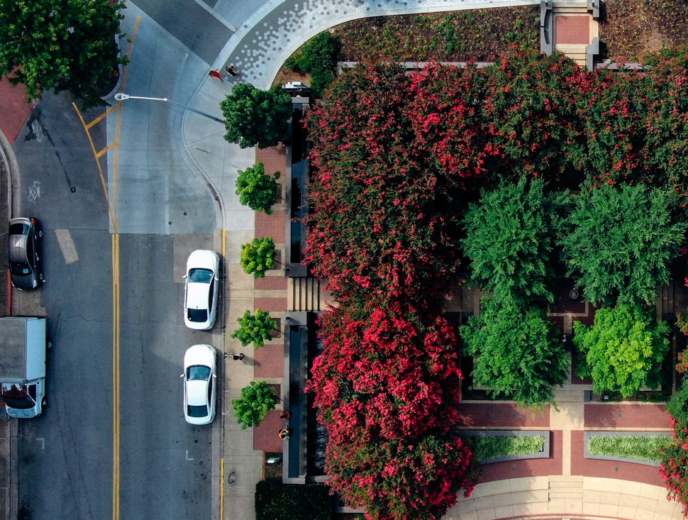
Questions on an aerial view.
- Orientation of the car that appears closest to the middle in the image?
from top to bottom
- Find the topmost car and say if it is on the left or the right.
left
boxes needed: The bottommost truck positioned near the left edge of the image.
[0,310,55,418]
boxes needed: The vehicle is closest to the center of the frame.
[177,249,218,329]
